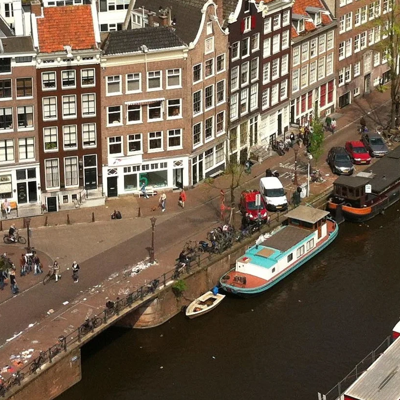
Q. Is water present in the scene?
Yes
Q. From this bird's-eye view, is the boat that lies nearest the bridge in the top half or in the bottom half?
bottom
